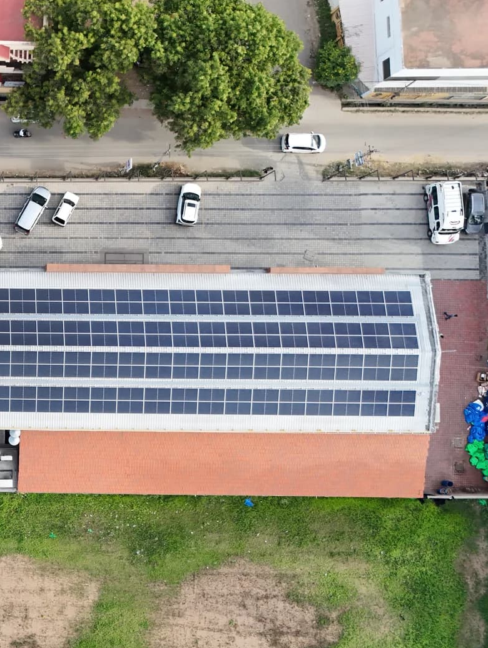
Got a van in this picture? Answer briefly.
Yes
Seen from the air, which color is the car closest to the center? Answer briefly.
white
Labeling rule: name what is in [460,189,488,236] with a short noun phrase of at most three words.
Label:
car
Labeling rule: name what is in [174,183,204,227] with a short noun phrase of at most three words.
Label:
car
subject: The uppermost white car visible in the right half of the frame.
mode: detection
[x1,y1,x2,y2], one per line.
[279,131,325,155]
